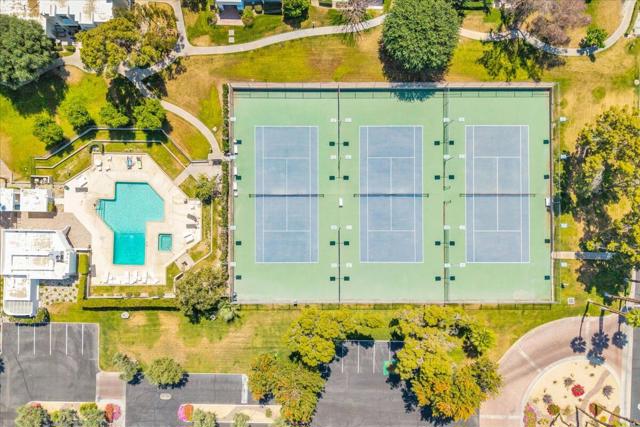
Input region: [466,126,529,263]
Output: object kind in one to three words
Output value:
tennis court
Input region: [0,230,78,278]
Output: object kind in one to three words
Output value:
building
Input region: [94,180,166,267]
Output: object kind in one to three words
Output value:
swimming pool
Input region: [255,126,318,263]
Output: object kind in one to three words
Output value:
tennis court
